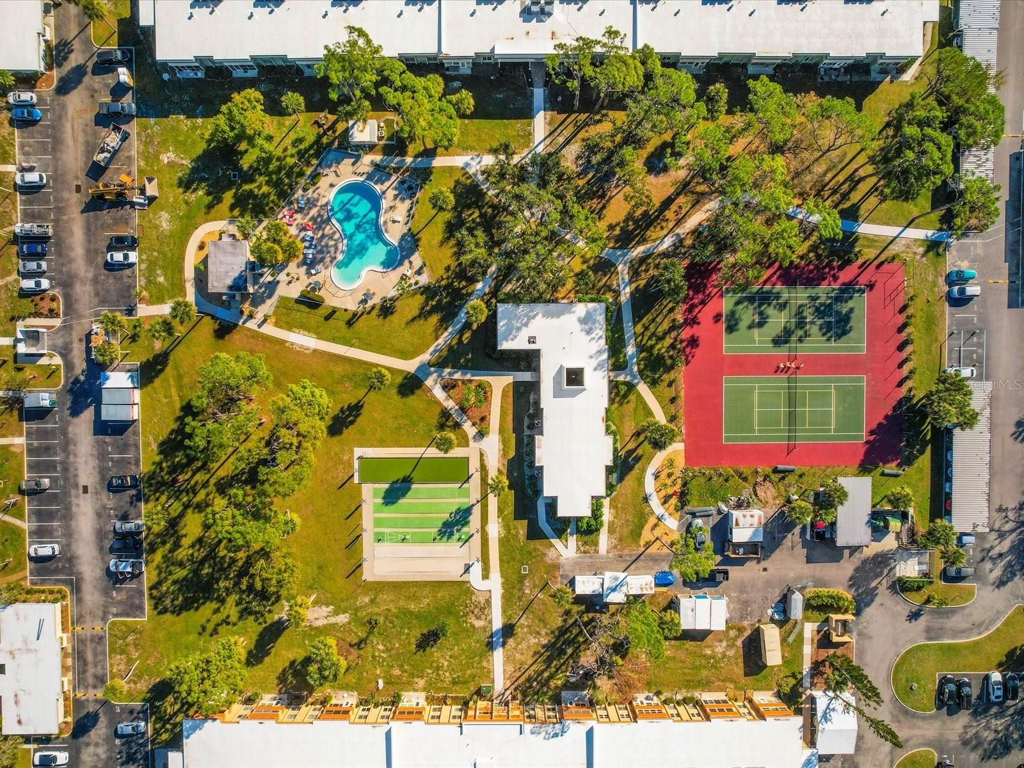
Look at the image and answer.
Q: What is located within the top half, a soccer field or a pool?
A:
pool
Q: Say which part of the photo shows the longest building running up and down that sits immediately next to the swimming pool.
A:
center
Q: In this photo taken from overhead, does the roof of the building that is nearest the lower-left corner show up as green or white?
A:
white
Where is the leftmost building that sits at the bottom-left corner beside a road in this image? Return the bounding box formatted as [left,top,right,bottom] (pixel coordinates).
[0,599,72,734]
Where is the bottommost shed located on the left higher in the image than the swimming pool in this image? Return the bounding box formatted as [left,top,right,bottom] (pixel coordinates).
[349,120,379,148]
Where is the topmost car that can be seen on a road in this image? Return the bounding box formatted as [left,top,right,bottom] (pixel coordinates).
[97,48,130,65]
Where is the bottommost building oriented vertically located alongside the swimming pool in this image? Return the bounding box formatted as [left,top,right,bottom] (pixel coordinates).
[496,302,614,517]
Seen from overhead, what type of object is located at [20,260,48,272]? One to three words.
vehicle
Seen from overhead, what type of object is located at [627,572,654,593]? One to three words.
shed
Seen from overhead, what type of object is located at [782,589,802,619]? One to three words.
building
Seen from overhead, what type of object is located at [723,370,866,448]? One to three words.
tennis court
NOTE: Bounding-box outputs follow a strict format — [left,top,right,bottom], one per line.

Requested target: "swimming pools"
[225,150,429,323]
